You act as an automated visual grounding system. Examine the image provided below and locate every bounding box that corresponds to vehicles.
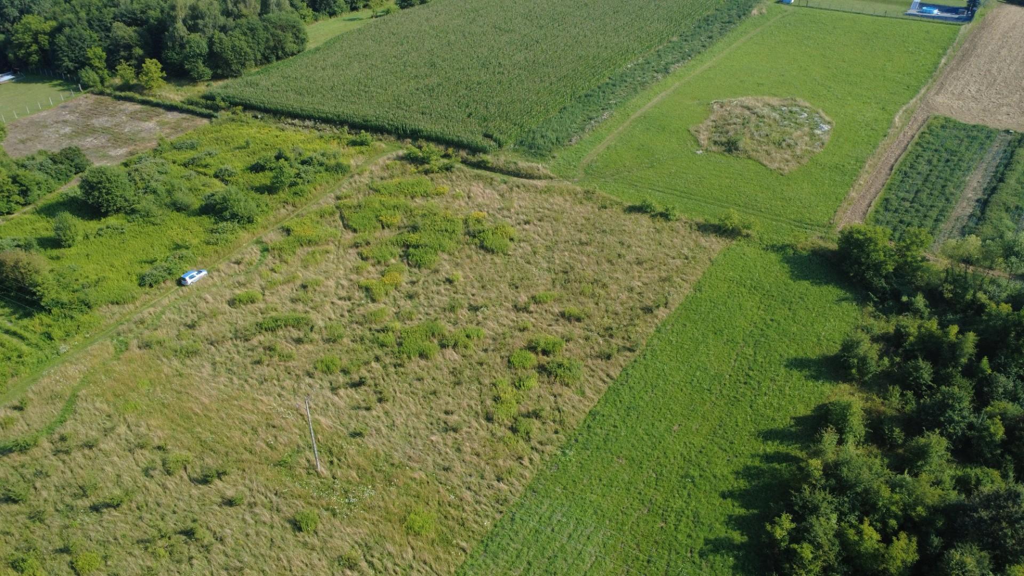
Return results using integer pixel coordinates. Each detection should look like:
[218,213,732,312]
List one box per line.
[178,270,205,287]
